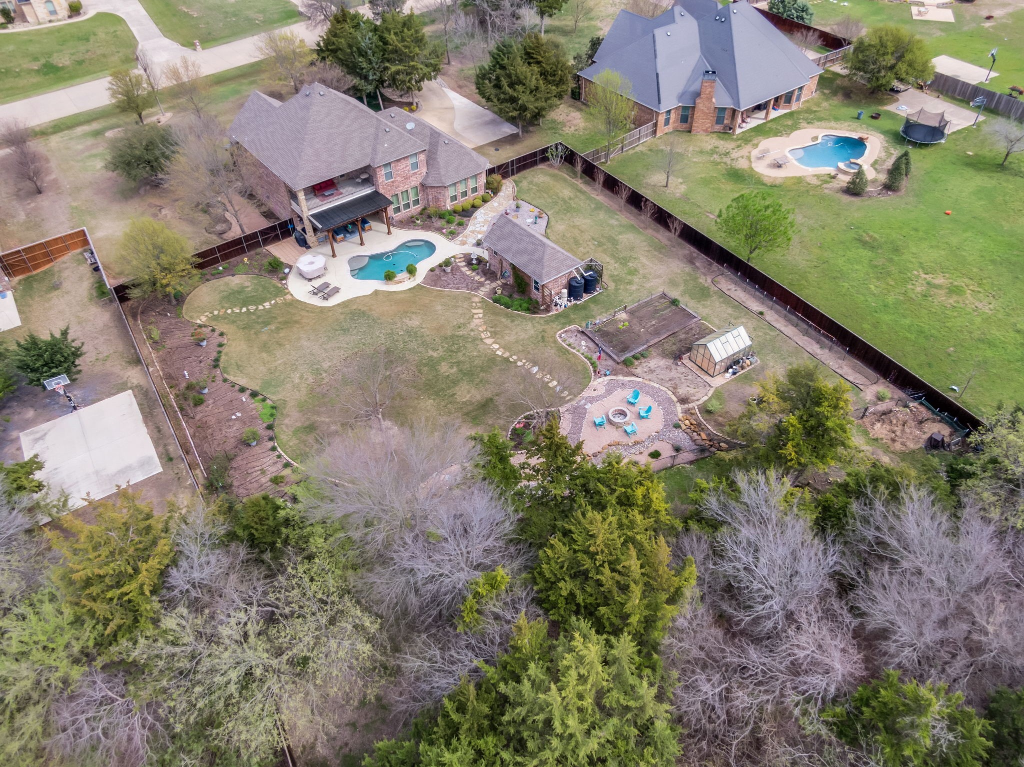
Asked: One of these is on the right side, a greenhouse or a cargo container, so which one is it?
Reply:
greenhouse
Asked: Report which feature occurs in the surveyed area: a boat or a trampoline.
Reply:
trampoline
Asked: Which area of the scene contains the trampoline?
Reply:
top right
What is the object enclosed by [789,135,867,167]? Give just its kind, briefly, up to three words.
swimming pool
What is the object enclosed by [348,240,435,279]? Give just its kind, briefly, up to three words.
swimming pool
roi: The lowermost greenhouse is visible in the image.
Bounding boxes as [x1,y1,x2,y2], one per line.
[689,321,759,377]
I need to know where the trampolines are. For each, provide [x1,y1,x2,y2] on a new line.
[900,106,952,150]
